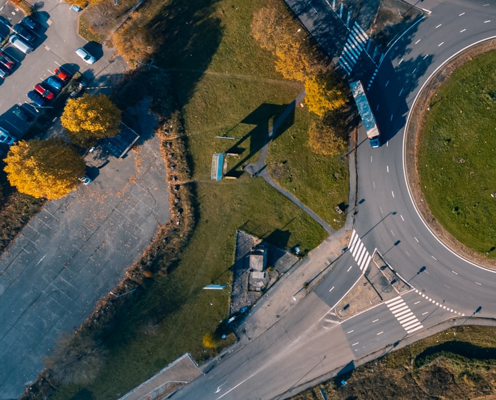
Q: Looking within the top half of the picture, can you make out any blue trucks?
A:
Yes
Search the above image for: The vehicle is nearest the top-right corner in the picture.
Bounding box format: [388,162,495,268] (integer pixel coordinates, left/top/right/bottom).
[350,79,387,149]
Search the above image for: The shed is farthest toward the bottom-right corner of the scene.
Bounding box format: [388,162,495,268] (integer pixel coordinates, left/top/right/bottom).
[249,247,267,271]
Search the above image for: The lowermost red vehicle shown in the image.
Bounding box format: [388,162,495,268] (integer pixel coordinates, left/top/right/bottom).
[35,83,55,100]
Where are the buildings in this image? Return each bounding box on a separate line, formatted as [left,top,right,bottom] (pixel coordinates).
[249,247,267,271]
[107,124,144,157]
